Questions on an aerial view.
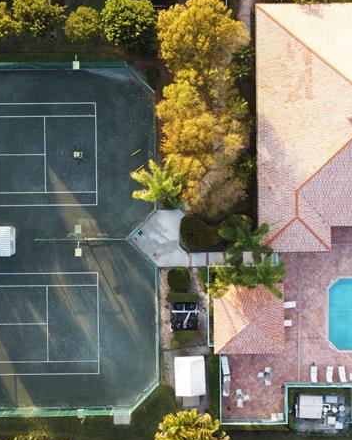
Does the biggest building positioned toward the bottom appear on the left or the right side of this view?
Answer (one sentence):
The biggest building positioned toward the bottom appears in the right half of the scene.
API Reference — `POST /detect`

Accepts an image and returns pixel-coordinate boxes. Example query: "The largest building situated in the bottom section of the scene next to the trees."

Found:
[213,286,286,354]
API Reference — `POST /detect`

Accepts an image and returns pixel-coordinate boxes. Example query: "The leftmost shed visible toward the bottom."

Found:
[175,360,205,399]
